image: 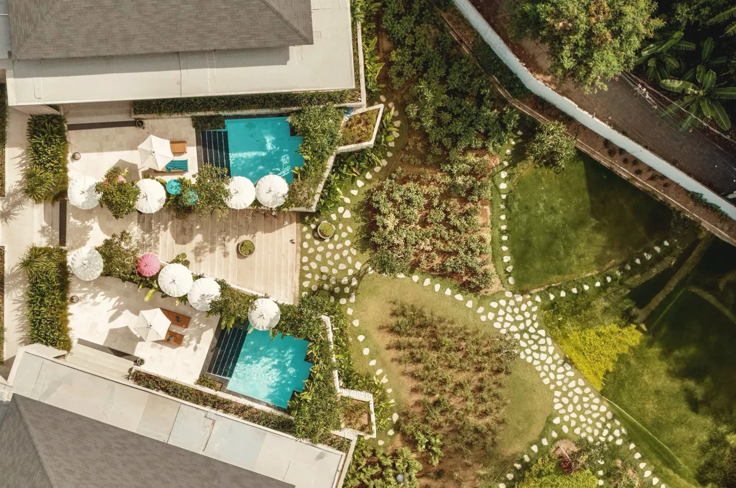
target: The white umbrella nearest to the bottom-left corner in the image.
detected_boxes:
[134,308,171,342]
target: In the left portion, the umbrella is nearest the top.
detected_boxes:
[138,135,173,170]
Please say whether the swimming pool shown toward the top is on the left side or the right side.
left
